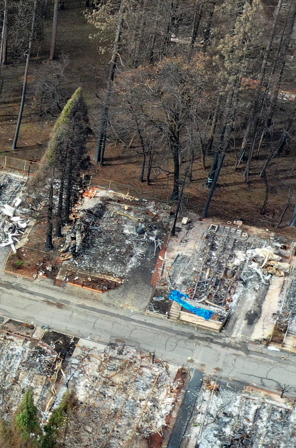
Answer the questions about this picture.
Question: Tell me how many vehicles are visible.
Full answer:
The picture shows no vehicles.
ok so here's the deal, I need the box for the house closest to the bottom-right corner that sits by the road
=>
[169,370,296,448]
